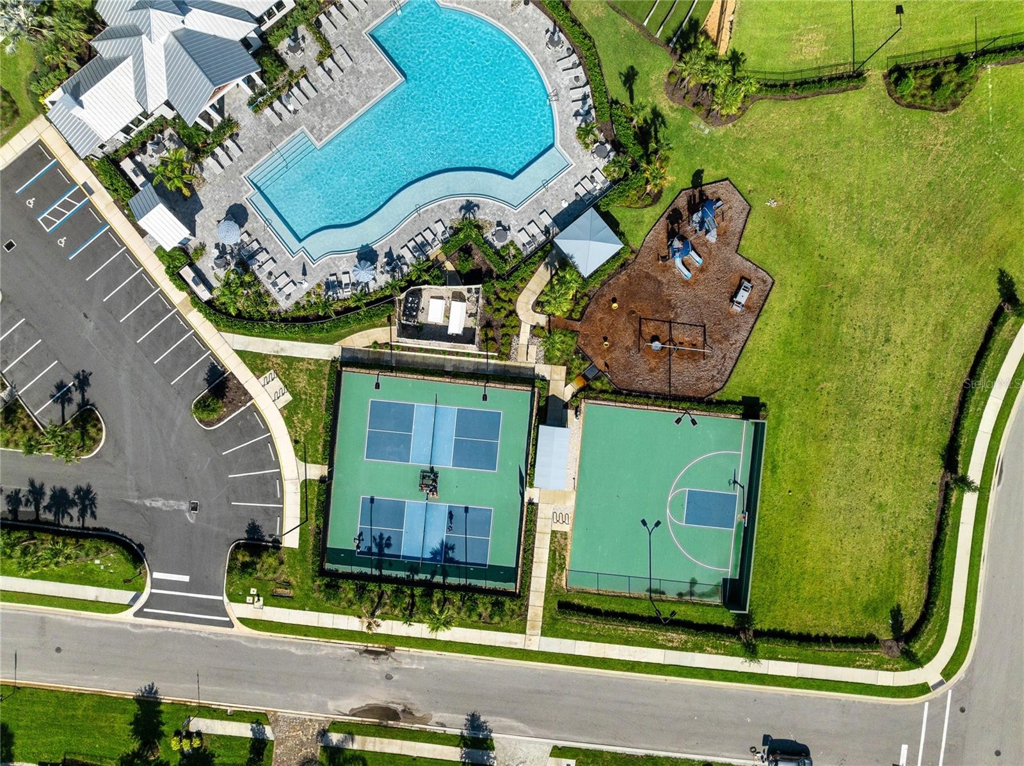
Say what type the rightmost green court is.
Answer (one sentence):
I'd say the rightmost green court is a basketball court.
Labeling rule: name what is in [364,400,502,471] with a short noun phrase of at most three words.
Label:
sports court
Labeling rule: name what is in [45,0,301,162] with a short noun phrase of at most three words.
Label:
building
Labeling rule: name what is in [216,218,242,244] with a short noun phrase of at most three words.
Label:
umbrella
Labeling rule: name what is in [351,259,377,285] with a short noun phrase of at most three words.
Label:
umbrella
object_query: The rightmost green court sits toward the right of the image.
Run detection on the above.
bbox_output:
[568,403,758,602]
